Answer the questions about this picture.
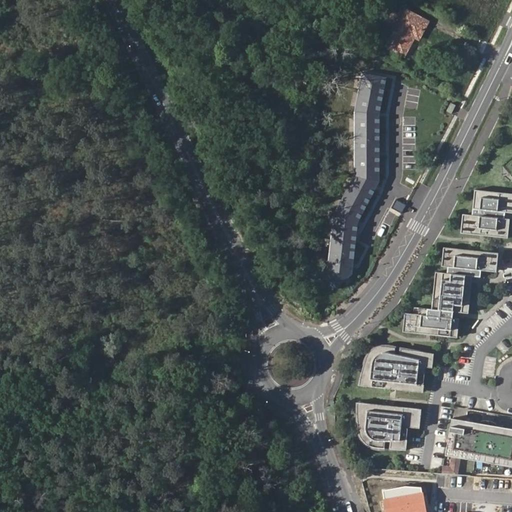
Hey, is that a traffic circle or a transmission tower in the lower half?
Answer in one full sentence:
Visible in the lower half is a traffic circle.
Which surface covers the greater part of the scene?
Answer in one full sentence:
The bulk of the photo consists of trees.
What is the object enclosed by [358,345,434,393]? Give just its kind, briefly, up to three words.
building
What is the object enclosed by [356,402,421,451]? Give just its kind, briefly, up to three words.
building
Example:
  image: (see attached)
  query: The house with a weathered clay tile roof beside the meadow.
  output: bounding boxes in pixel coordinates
[390,10,428,54]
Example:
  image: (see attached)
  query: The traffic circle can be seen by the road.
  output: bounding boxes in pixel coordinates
[250,323,332,405]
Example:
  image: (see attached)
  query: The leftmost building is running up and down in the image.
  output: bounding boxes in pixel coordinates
[328,77,388,275]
